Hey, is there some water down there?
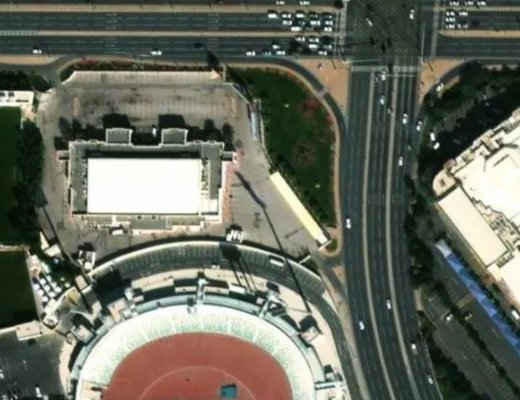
No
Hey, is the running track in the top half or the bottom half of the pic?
bottom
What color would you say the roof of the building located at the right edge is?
white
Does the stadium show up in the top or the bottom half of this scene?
bottom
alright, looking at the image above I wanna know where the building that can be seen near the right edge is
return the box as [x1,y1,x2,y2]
[432,108,520,323]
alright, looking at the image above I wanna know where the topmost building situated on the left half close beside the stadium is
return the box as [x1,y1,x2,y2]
[58,127,237,229]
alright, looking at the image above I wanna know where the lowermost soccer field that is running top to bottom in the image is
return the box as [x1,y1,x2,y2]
[0,251,37,329]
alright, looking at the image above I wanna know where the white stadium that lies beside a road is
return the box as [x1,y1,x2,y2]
[68,276,349,400]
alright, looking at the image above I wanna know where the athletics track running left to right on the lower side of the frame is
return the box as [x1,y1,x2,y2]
[103,332,292,400]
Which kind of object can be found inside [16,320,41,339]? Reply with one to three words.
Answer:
building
